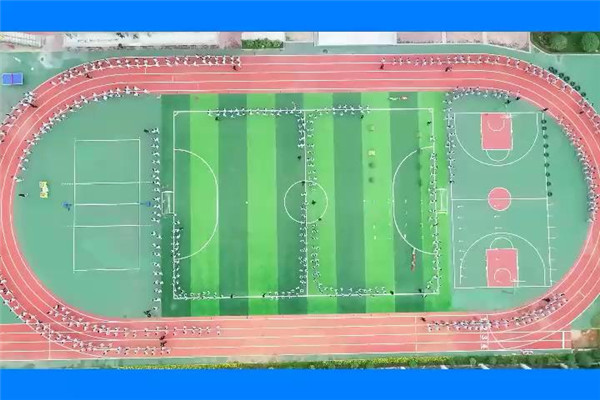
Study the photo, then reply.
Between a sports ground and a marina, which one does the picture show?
sports ground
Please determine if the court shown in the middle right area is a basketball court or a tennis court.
basketball court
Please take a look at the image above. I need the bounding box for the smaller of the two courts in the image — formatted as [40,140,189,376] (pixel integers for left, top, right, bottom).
[62,139,151,271]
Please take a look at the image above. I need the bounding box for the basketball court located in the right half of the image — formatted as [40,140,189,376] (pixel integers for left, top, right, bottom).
[445,110,553,292]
